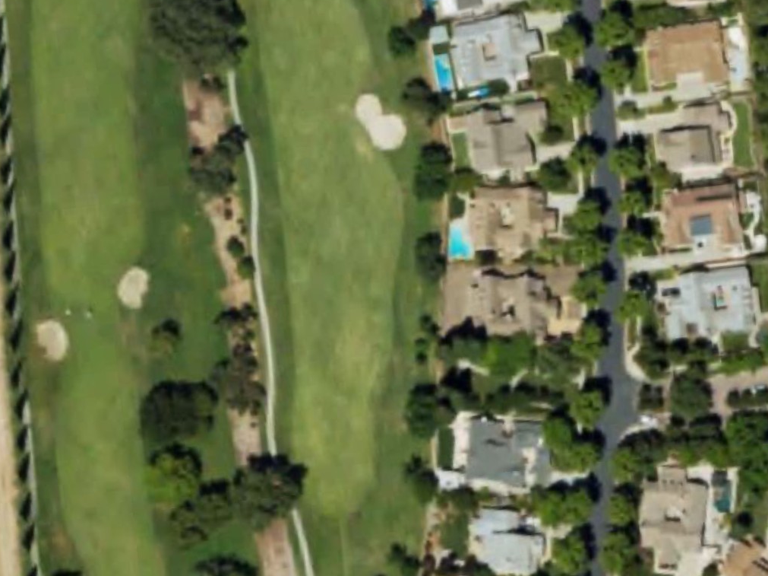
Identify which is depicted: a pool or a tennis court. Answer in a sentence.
It is a pool that can be seen here.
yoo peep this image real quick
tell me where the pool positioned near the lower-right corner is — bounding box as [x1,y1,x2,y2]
[715,470,732,512]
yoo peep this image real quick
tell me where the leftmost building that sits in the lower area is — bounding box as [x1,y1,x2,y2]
[439,470,464,489]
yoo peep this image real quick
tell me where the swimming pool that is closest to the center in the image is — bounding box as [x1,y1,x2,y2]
[450,224,472,259]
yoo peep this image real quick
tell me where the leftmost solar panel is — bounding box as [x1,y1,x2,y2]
[692,216,713,235]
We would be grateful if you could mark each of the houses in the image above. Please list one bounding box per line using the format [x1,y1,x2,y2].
[465,102,547,182]
[661,265,755,337]
[726,540,768,576]
[465,418,552,487]
[641,462,709,572]
[466,189,559,259]
[448,14,545,88]
[658,101,735,170]
[471,506,544,576]
[466,276,558,343]
[643,19,732,87]
[664,182,741,251]
[442,0,485,20]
